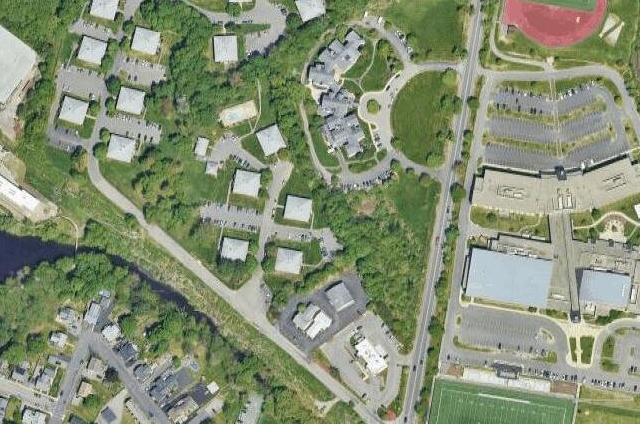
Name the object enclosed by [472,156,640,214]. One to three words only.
building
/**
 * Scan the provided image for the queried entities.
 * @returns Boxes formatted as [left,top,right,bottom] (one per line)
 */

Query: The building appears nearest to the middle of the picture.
[284,195,313,223]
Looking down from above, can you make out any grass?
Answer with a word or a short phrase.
Yes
